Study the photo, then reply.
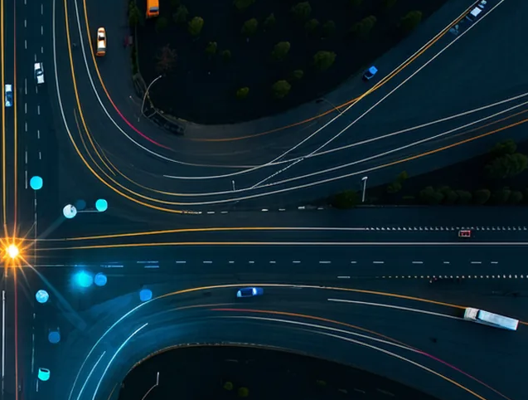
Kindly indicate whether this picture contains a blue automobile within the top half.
Yes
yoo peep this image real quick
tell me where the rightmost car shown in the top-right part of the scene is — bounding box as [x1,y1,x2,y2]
[465,0,487,20]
